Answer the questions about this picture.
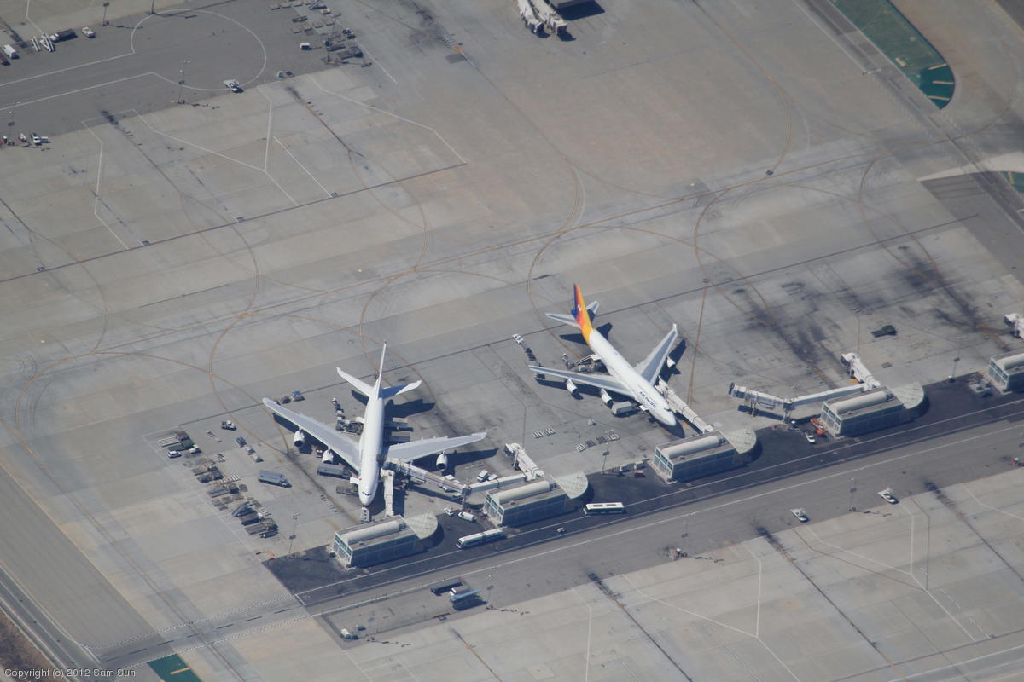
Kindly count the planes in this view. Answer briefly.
2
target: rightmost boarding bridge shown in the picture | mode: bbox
[998,314,1024,348]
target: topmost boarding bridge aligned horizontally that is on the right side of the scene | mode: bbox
[724,384,873,423]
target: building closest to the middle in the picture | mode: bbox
[477,469,583,528]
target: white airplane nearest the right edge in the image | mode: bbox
[523,283,681,426]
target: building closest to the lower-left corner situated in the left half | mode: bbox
[327,509,434,568]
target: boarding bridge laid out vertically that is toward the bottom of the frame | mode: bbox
[378,467,402,518]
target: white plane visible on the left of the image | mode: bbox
[263,343,488,509]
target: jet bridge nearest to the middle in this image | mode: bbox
[500,444,541,484]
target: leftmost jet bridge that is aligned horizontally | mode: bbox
[377,456,544,510]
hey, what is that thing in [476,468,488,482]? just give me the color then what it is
white vehicle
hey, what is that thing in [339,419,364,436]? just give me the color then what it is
gray work vehicle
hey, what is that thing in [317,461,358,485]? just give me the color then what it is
gray truck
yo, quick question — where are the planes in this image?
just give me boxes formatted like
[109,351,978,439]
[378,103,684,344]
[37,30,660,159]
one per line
[523,283,681,426]
[263,343,488,509]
